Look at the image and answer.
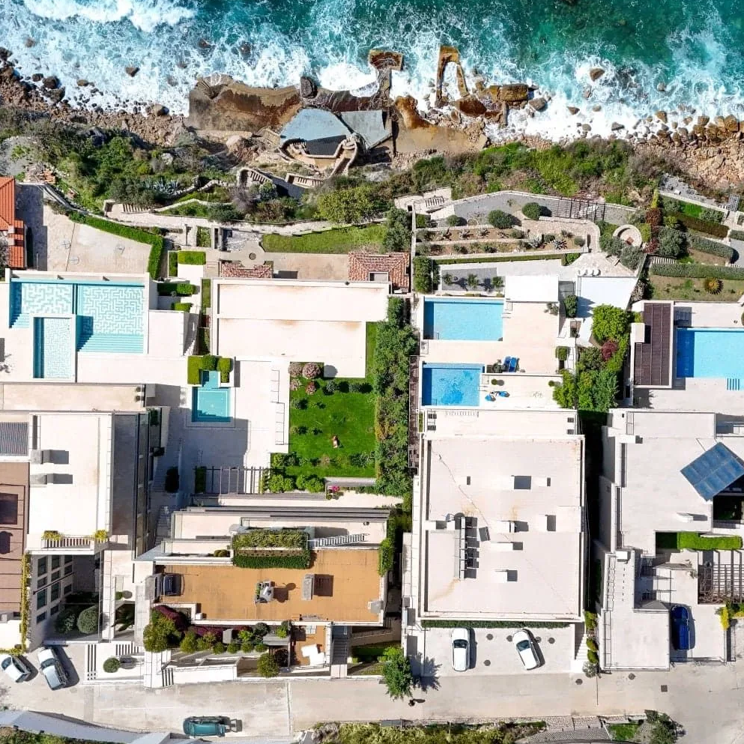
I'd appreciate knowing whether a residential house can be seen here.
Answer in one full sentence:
Yes, the frame does contain a residential house.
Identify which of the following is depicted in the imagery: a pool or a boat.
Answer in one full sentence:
The image shows a pool.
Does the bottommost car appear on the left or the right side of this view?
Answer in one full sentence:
It is on the left.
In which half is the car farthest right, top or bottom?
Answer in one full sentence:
You can find the car farthest right in the bottom half.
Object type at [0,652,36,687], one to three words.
car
